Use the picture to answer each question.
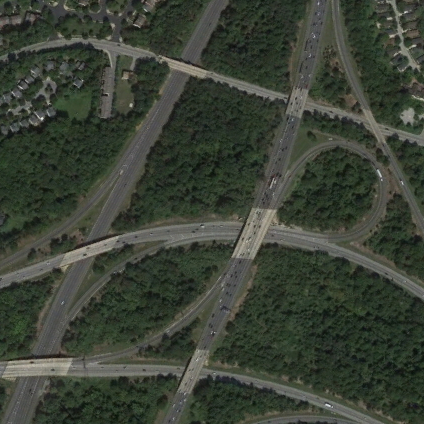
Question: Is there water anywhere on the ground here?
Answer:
No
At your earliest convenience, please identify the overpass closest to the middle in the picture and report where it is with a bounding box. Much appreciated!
[231,207,276,258]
